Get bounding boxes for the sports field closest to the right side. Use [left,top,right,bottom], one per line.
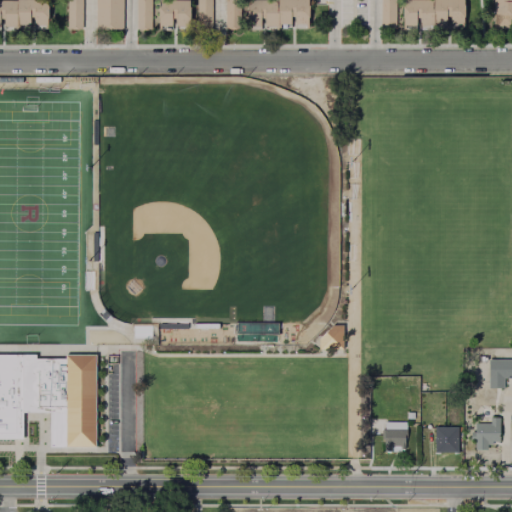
[361,77,512,392]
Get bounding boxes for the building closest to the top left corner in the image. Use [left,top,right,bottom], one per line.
[0,0,50,30]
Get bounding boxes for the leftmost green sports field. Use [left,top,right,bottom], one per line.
[0,90,112,344]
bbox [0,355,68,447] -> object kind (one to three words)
building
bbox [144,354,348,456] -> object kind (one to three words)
sports field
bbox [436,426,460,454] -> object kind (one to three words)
house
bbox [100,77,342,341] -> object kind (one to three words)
baseball field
